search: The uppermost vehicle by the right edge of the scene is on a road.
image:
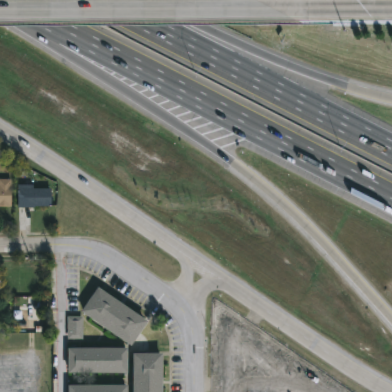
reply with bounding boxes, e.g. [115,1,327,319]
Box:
[360,138,387,154]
